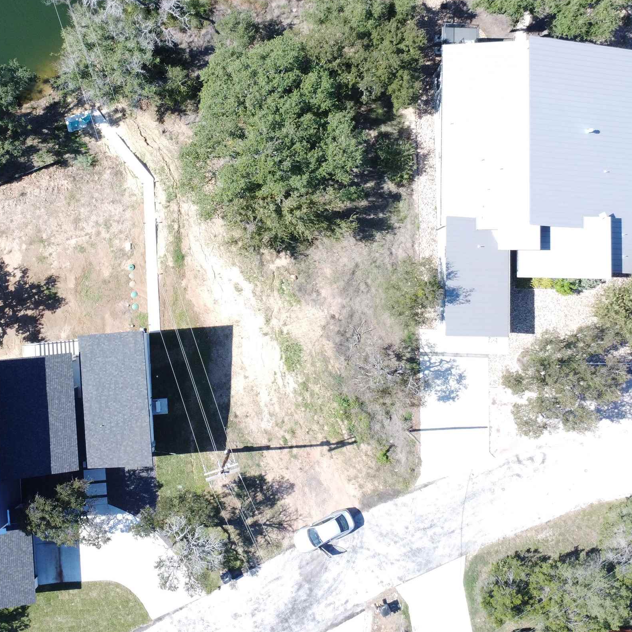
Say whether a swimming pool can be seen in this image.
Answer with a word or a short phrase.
No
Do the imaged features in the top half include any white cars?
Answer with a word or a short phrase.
No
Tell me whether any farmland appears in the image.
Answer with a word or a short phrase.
No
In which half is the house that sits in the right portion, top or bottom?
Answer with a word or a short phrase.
top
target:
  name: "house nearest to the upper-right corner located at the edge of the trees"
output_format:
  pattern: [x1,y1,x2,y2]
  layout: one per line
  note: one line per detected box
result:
[436,35,632,337]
